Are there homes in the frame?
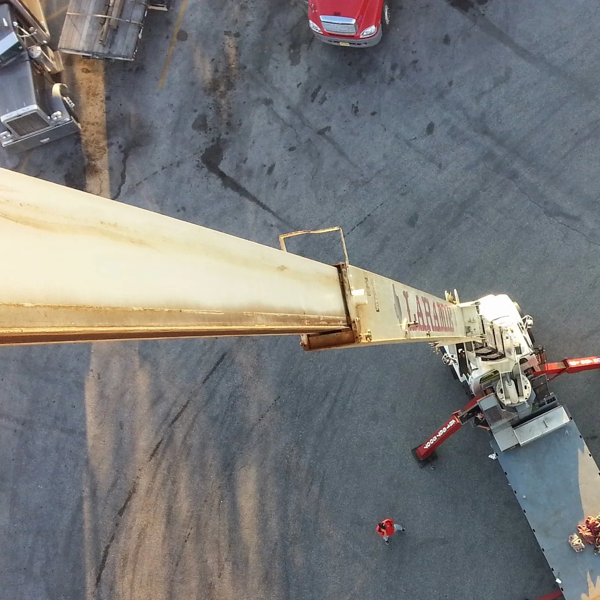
No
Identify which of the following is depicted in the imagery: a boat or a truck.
truck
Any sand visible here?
No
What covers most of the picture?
paved ground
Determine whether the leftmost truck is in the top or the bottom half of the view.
top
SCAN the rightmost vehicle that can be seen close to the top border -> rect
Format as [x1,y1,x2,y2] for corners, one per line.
[306,0,390,52]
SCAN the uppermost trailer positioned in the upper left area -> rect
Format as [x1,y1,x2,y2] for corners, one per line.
[57,0,172,65]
